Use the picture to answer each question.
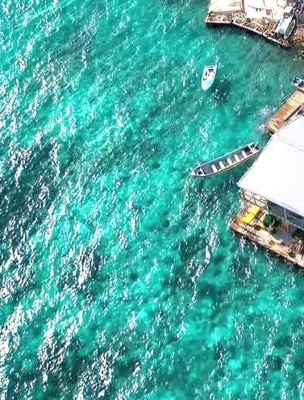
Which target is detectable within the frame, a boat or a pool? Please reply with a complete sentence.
I can see a boat in this picture.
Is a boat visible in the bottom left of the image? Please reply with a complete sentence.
No, there's no boat to be seen in the bottom left of the image.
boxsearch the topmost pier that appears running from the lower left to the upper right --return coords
[268,91,304,136]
